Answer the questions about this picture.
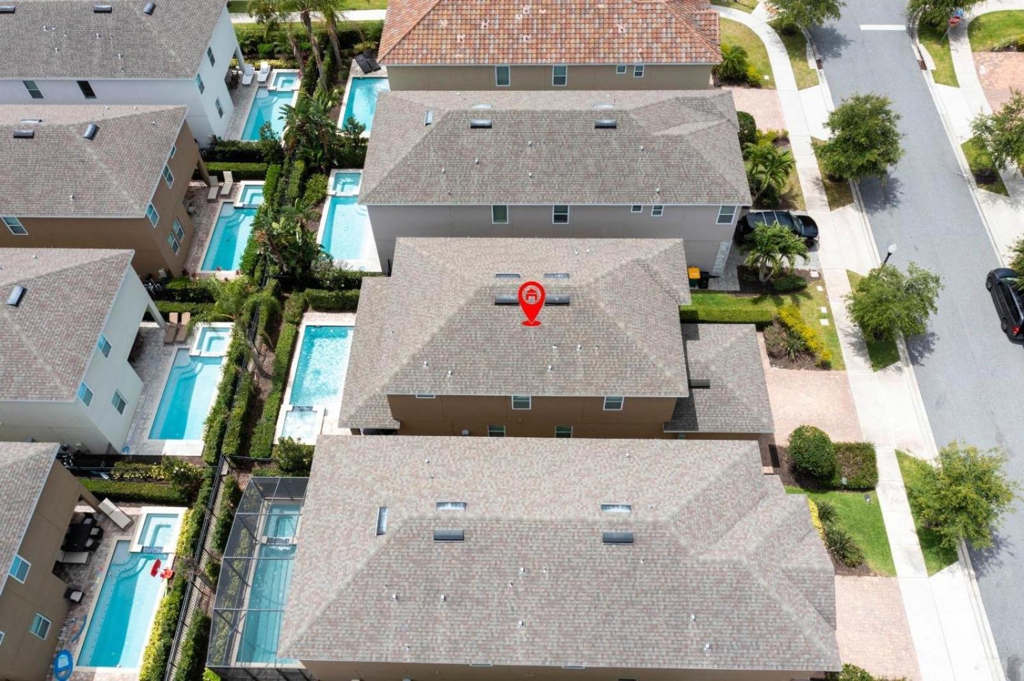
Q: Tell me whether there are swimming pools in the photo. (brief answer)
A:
Yes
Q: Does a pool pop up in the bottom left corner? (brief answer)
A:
Yes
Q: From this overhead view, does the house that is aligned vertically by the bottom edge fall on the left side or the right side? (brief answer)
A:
left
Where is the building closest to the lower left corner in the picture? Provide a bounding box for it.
[0,441,97,681]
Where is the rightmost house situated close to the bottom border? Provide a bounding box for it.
[274,435,846,681]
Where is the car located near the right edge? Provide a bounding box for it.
[984,269,1024,338]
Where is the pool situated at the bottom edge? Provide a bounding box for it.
[71,509,182,675]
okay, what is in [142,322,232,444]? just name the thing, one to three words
swimming pool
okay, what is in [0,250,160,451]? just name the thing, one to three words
house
